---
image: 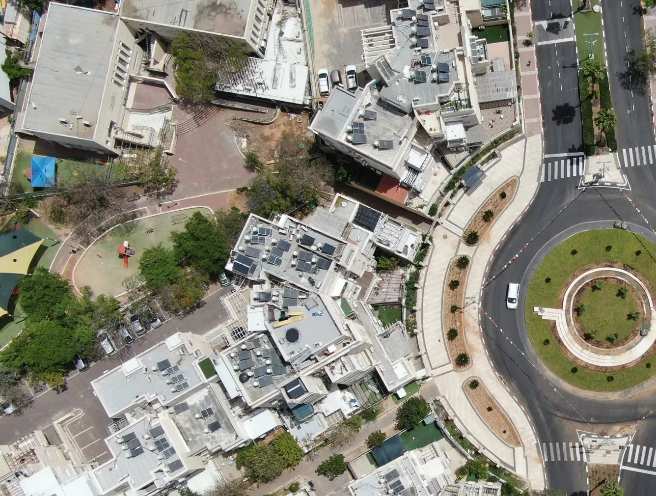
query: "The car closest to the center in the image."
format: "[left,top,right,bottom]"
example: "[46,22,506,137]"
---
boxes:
[216,267,232,291]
